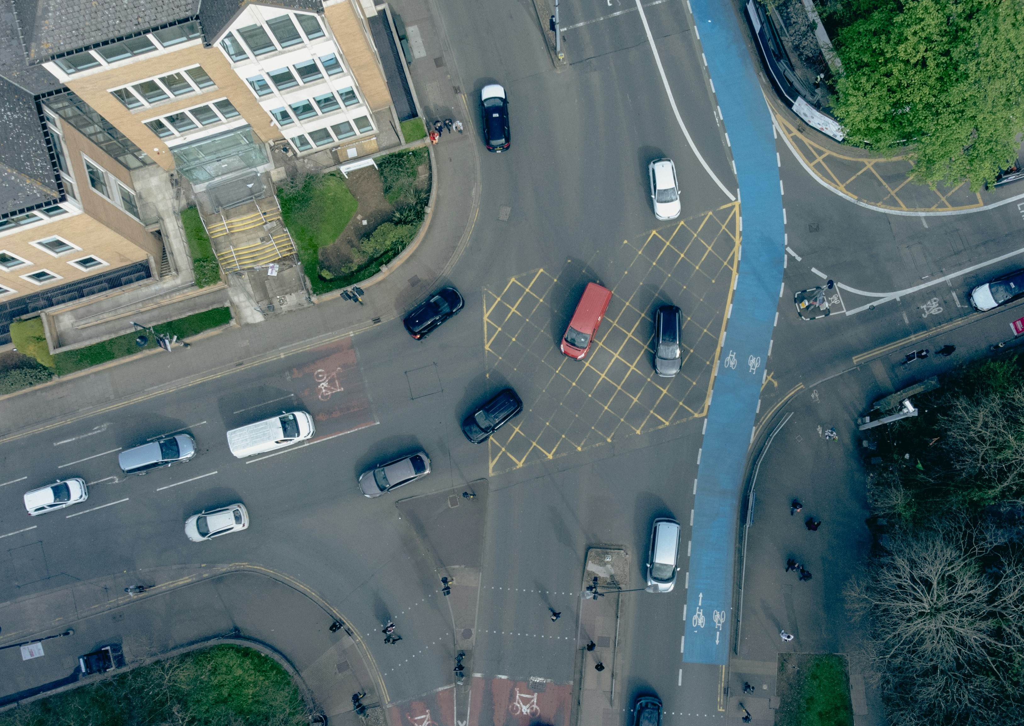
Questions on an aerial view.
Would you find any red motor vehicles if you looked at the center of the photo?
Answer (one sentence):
Yes, a red motor vehicle appears at the center of the photo.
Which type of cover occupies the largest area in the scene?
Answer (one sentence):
The scene is dominated by paved ground.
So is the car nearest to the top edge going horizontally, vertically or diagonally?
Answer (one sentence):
In this picture, the car nearest to the top edge is oriented vertically.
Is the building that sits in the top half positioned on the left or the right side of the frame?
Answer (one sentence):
The building that sits in the top half sits on the left side.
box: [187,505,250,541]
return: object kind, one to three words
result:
car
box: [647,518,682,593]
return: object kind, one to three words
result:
car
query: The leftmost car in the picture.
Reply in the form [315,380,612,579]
[22,480,90,517]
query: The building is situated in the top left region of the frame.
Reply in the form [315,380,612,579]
[0,0,396,301]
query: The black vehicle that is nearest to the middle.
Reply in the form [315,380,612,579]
[461,386,523,444]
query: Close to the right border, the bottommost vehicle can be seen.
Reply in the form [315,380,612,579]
[967,266,1024,314]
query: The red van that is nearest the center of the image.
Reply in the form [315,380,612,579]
[561,281,614,362]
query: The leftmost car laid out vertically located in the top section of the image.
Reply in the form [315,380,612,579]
[479,86,512,152]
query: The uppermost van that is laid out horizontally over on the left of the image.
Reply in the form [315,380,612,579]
[225,412,313,460]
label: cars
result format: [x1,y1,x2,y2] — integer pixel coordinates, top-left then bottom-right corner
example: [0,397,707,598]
[22,480,90,517]
[361,453,433,499]
[479,86,512,152]
[648,157,683,223]
[652,306,686,377]
[187,505,250,541]
[461,386,523,444]
[632,691,663,726]
[406,286,465,338]
[967,266,1024,314]
[647,518,682,593]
